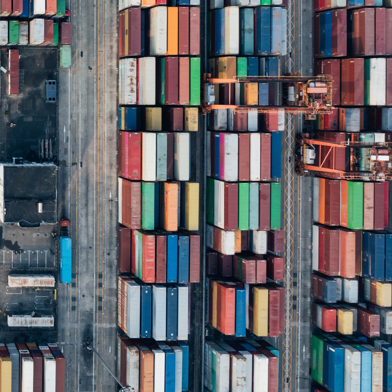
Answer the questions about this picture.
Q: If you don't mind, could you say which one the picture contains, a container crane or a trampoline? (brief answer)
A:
container crane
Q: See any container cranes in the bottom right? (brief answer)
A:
No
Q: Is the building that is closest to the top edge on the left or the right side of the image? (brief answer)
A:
left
